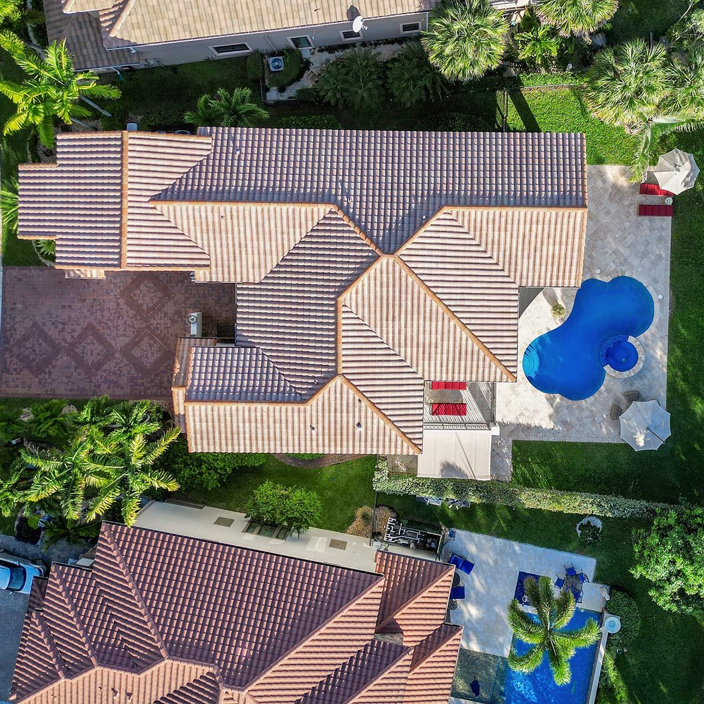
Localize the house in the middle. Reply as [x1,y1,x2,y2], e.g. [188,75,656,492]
[15,125,589,456]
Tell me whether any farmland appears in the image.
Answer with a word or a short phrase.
No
